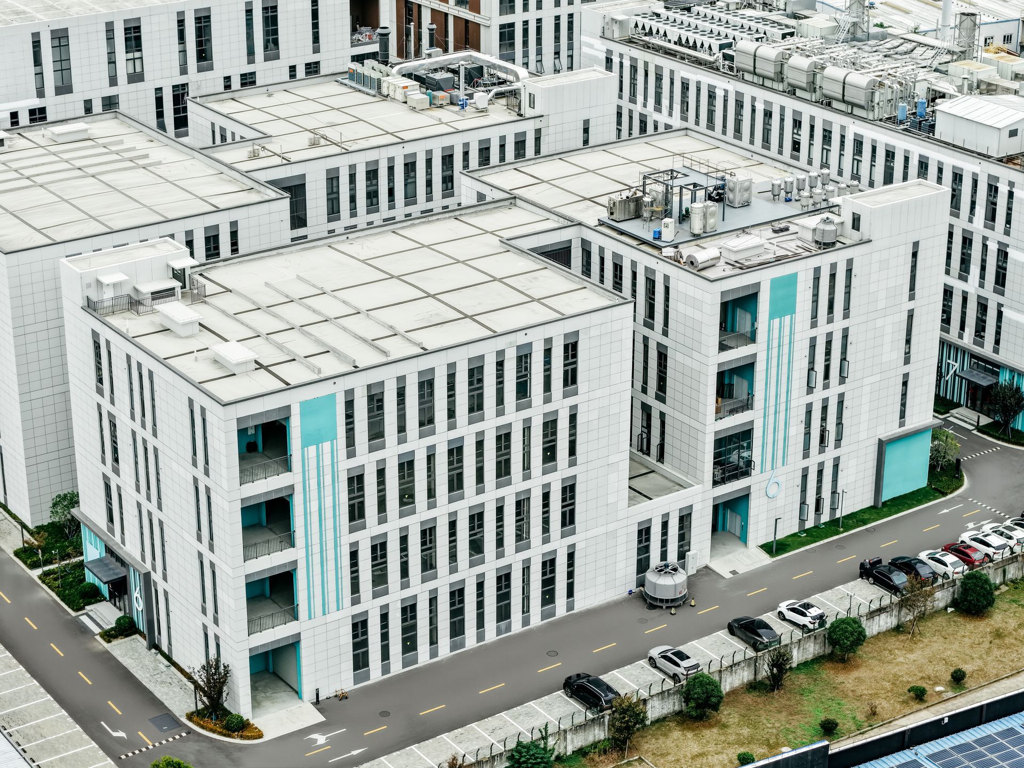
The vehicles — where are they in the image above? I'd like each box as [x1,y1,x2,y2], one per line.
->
[646,645,705,683]
[565,674,626,715]
[915,548,974,579]
[776,600,832,634]
[890,556,949,588]
[999,517,1024,530]
[726,616,787,652]
[937,541,995,569]
[958,530,1019,561]
[978,523,1024,552]
[865,555,926,599]
[1016,510,1024,518]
